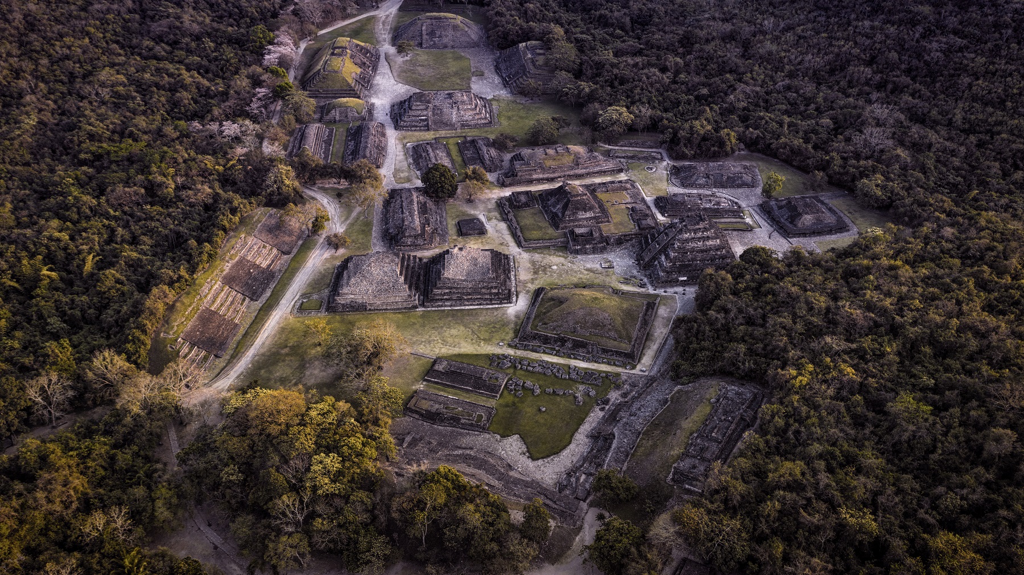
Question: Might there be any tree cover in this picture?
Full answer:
Yes, there's tree cover in this view.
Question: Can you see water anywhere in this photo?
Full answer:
No, water can't be seen anywhere here.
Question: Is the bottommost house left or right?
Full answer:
It is on the right.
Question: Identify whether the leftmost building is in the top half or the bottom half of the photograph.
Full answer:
It is in the top half that the leftmost building appears.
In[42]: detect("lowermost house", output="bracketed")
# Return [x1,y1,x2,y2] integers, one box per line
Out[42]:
[655,184,745,218]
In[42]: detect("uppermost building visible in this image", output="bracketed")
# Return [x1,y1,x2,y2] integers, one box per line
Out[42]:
[396,90,500,132]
